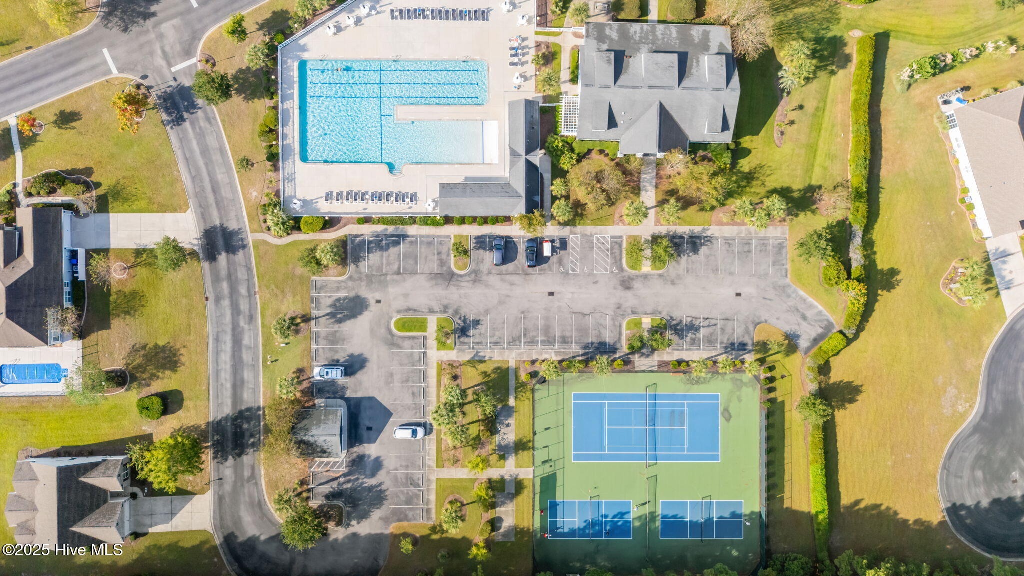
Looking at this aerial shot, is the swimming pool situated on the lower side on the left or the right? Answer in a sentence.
It is on the left.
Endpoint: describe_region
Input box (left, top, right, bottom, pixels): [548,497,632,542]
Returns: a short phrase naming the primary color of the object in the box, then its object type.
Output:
blue sports court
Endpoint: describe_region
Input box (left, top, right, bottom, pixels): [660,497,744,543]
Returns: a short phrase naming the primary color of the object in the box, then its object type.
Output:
blue sports court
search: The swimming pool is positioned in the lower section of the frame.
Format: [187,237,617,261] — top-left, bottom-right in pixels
[0,359,68,384]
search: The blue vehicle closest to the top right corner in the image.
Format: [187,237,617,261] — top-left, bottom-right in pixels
[524,239,538,268]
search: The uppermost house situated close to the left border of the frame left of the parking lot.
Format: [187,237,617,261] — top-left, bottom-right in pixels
[0,207,75,347]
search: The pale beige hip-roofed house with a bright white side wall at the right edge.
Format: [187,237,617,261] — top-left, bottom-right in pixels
[948,86,1024,237]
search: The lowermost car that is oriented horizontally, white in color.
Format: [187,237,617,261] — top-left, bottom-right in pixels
[393,427,424,442]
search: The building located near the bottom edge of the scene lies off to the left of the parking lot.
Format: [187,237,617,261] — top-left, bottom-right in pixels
[5,450,133,555]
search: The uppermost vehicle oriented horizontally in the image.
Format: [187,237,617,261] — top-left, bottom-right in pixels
[312,367,343,382]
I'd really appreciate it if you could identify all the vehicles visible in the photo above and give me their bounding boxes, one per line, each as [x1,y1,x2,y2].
[312,367,343,382]
[492,238,506,266]
[393,427,424,442]
[524,239,538,268]
[543,241,552,256]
